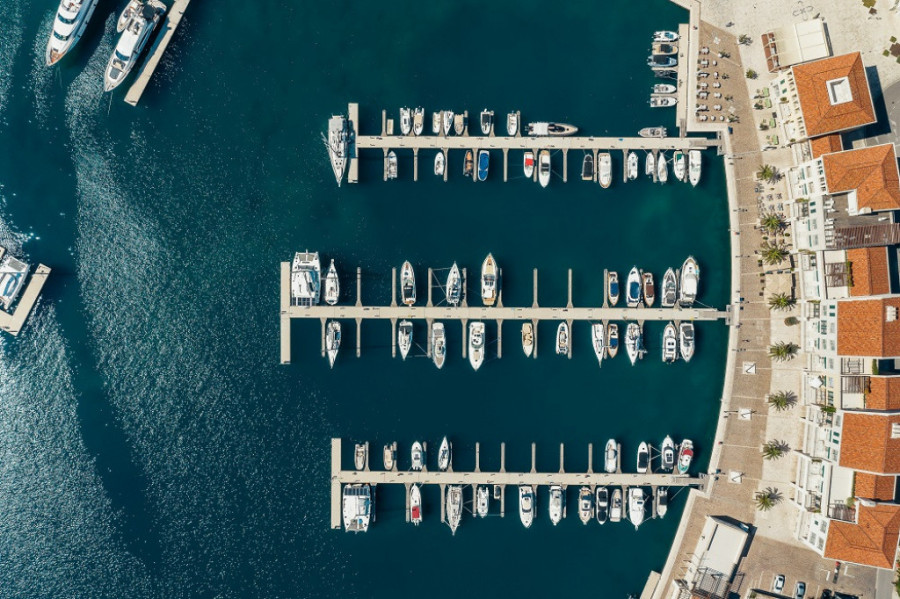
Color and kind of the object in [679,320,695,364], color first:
white boat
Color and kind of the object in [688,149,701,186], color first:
white boat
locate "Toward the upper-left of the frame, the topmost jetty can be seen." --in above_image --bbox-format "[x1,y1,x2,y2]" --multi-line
[124,0,195,106]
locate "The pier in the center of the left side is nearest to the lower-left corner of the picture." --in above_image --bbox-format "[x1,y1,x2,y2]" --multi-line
[0,263,53,336]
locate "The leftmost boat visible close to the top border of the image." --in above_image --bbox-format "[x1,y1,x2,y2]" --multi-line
[46,0,98,85]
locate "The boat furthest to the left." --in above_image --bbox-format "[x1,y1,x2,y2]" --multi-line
[0,255,31,311]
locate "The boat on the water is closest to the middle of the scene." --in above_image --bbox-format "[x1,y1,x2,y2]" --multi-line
[431,260,462,307]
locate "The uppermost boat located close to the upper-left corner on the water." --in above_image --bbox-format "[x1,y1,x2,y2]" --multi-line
[115,0,138,32]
